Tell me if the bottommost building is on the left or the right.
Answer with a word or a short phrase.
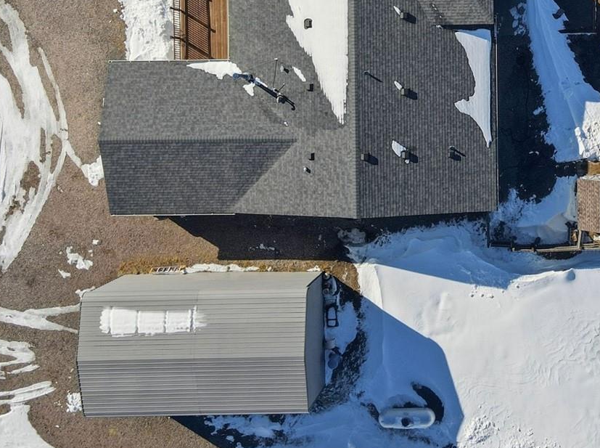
left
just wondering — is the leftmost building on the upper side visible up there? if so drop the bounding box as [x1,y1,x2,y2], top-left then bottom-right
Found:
[99,0,500,219]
